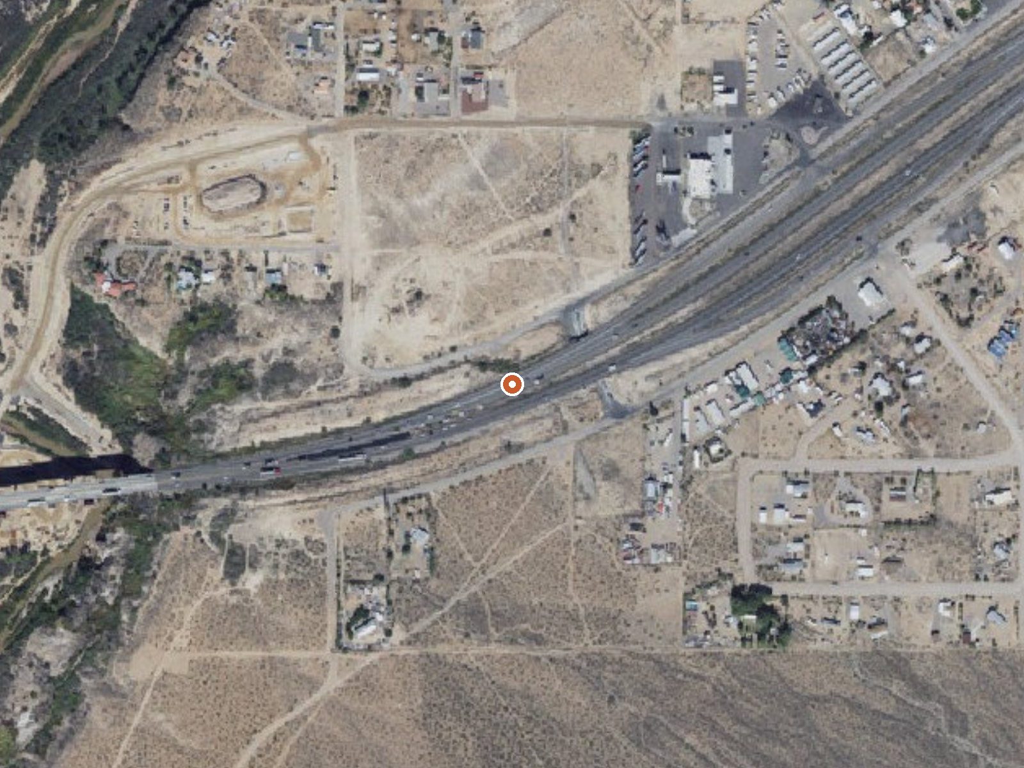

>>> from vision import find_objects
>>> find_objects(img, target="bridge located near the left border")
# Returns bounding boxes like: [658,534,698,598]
[0,471,159,510]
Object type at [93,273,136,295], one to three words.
house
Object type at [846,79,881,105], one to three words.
shed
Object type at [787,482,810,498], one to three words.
house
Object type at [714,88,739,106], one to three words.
building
